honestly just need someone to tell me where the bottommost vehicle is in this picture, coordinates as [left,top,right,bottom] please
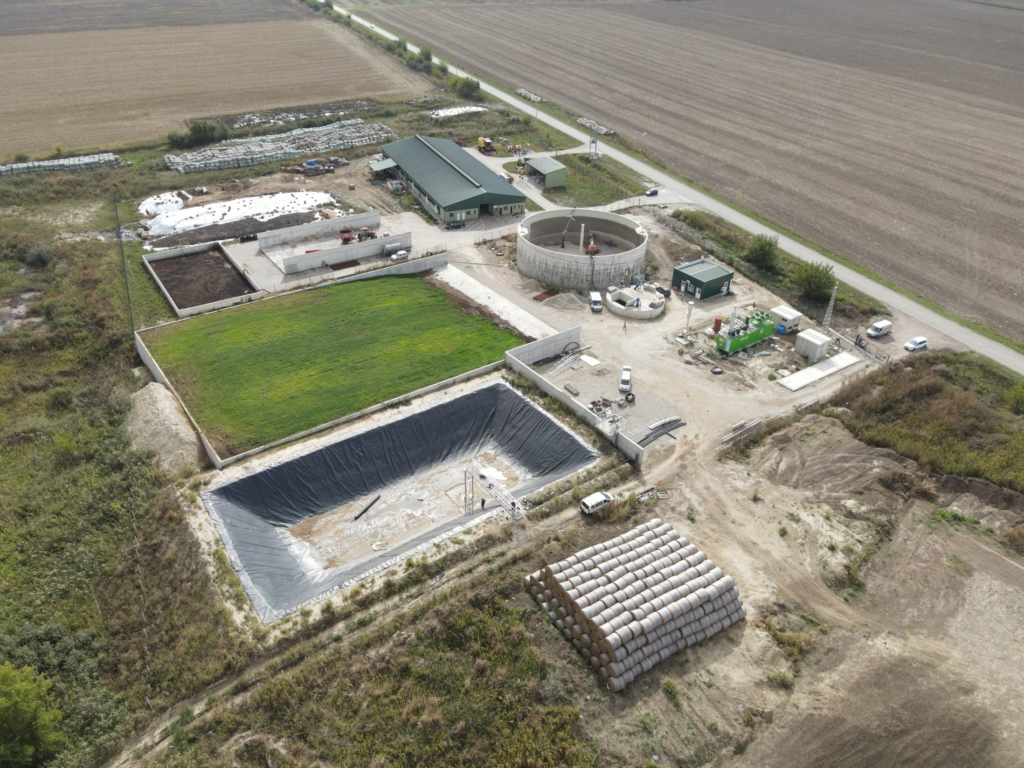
[579,485,620,515]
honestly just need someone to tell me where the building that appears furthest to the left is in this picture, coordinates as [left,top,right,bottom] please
[367,132,528,223]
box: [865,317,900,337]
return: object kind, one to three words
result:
vehicle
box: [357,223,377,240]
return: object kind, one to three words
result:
work vehicle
